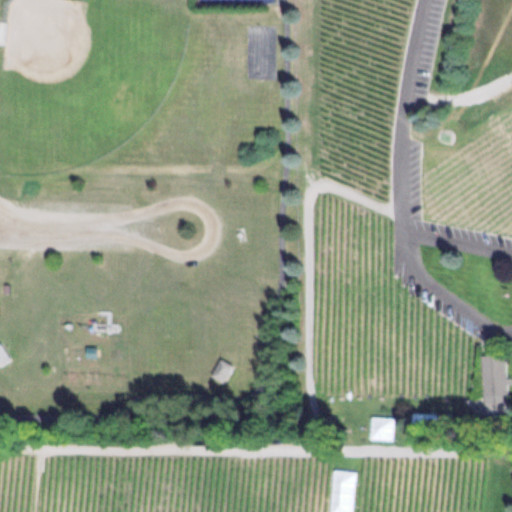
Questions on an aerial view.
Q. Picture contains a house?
Yes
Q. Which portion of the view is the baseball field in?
top left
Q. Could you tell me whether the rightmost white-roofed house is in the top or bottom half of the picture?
bottom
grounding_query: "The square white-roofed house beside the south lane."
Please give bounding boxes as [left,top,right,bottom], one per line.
[370,418,395,442]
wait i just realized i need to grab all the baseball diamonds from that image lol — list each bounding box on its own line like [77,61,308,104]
[0,0,189,176]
